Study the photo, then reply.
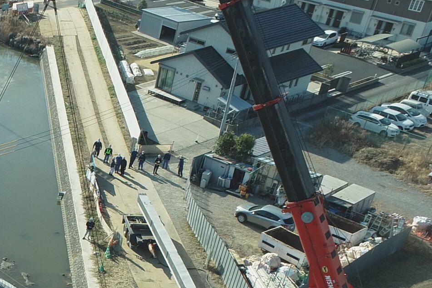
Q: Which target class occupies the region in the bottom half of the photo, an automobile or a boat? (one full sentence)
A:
What appears in the bottom half of the photo is an automobile.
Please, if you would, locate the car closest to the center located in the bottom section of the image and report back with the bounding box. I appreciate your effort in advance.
[228,197,279,223]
